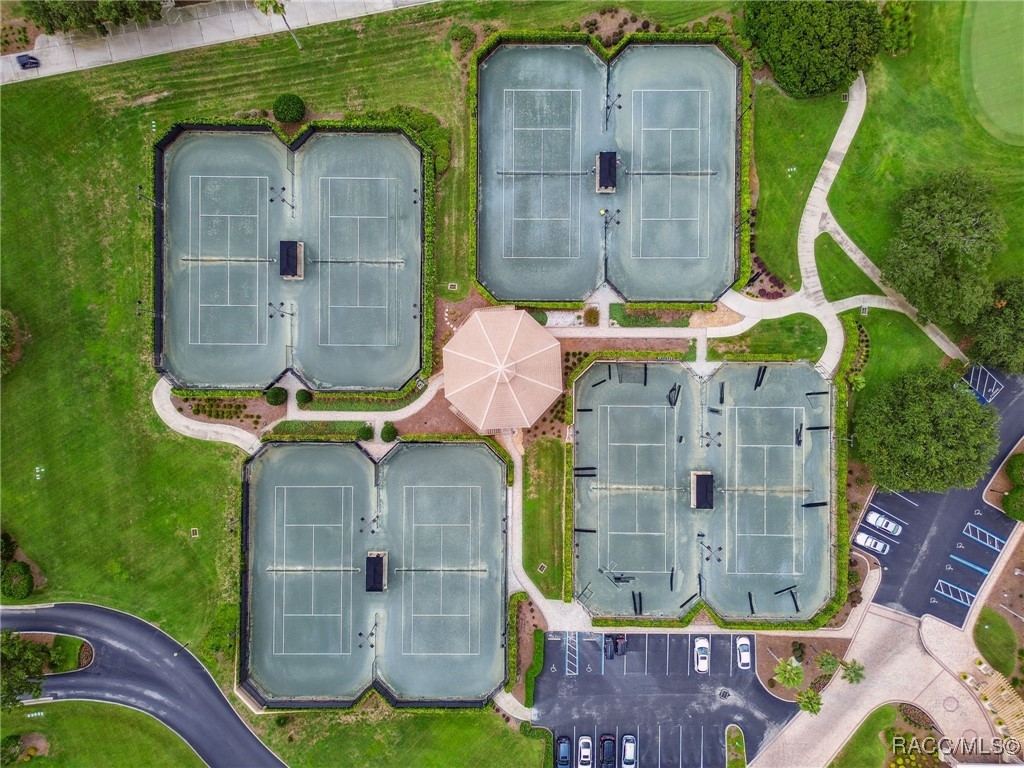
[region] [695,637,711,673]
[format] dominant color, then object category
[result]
white car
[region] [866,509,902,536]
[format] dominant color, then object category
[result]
white car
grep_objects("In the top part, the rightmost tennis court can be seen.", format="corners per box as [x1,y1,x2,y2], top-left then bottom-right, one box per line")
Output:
[607,46,735,300]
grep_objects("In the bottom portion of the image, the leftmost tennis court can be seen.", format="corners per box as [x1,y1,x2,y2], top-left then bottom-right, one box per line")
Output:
[247,445,377,699]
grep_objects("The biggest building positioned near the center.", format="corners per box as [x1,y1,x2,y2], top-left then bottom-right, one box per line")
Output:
[443,304,563,435]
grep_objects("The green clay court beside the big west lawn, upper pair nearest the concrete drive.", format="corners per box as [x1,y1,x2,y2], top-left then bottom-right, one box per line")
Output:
[164,131,292,388]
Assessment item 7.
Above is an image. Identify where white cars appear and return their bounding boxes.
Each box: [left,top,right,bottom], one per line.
[855,530,890,556]
[695,637,711,673]
[623,736,638,768]
[866,509,902,536]
[578,736,594,768]
[736,636,753,670]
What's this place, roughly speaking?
sports ground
